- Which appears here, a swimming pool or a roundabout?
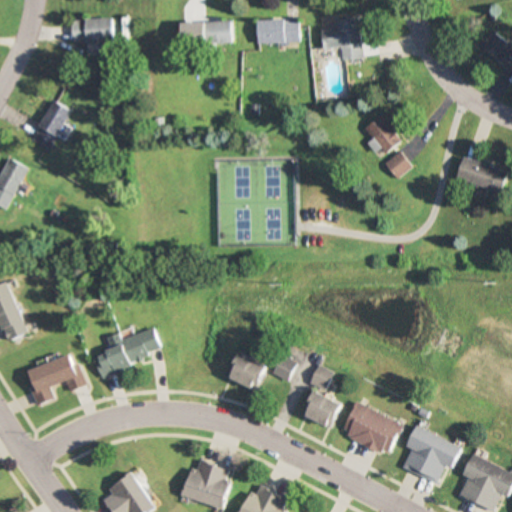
swimming pool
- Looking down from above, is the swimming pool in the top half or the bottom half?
top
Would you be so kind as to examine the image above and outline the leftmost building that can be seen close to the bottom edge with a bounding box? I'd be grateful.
[104,472,157,512]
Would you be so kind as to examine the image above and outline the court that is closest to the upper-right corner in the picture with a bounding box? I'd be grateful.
[264,166,280,198]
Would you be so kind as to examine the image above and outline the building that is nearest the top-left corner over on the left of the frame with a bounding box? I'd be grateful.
[70,16,116,40]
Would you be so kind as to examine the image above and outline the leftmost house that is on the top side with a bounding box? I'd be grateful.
[0,158,30,212]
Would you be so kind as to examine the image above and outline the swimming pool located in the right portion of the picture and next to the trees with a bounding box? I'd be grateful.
[312,48,350,102]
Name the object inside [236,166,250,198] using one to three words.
sports court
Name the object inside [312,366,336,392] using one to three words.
building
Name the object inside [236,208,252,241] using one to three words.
sports court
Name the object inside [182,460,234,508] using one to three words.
house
